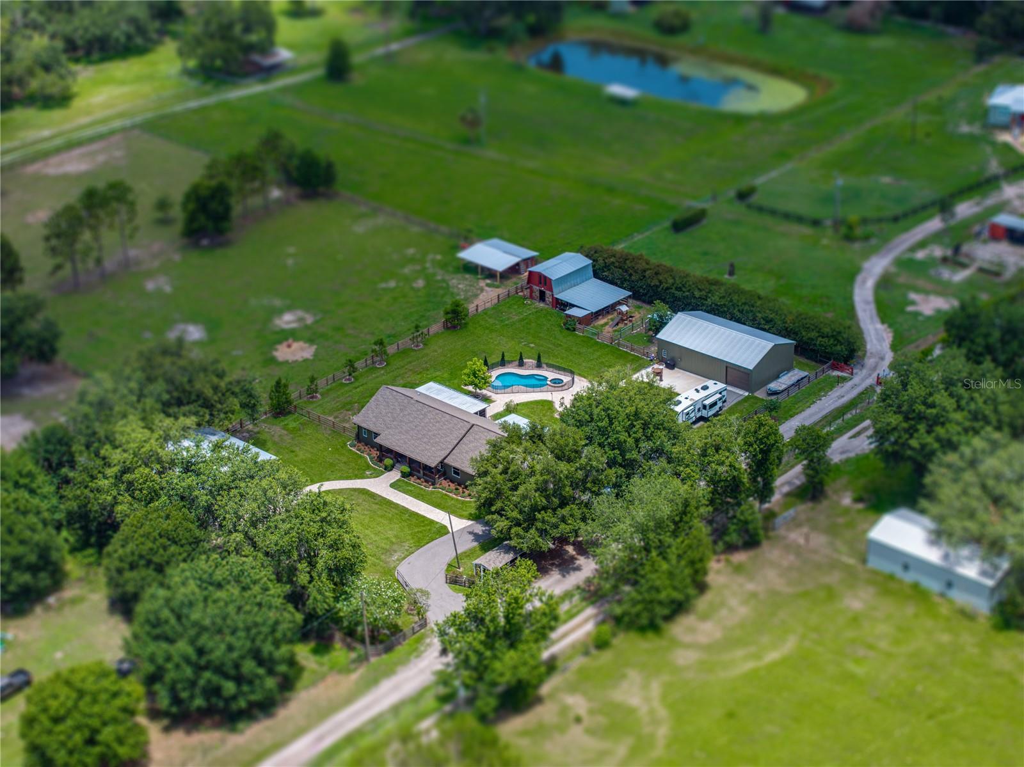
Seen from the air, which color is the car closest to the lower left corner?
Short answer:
black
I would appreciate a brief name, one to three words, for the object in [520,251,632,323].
barn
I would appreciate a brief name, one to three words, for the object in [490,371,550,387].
swimming pool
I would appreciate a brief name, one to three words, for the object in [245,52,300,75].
shed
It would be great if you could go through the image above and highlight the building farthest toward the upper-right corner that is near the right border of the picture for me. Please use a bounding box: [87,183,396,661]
[987,96,1024,133]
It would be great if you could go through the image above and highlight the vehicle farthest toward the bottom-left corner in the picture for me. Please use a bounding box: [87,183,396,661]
[0,675,31,699]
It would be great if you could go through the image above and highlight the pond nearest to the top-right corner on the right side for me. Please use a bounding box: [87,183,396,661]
[534,39,756,108]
